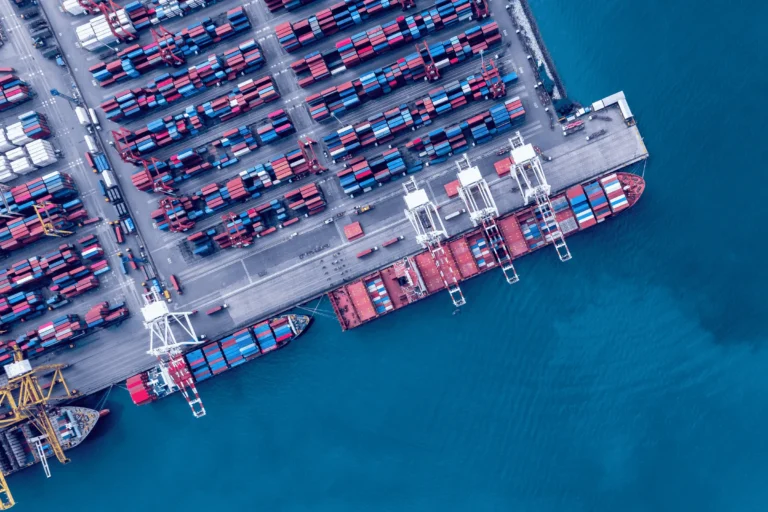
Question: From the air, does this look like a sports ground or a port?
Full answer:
The area seen from above is a port.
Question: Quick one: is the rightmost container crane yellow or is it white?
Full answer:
From above, the rightmost container crane appears white.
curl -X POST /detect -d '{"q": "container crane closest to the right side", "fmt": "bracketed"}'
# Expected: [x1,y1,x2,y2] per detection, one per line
[508,123,578,260]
